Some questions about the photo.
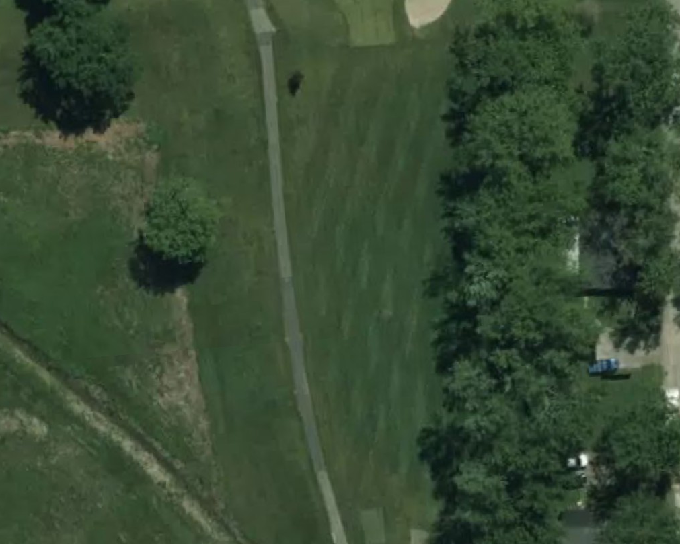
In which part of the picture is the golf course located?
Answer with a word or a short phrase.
center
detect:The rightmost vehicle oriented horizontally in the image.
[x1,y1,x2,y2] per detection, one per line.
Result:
[588,359,620,376]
